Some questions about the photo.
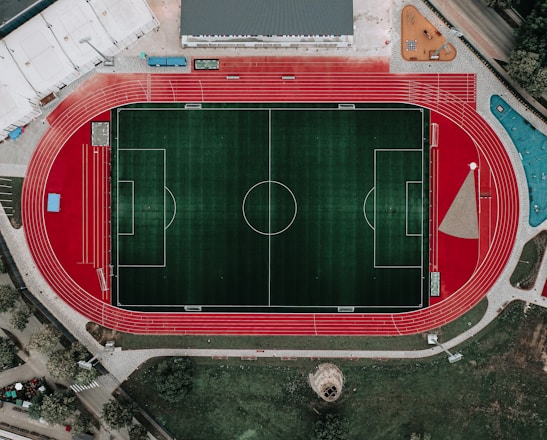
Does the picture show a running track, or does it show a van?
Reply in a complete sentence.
There is a running track in the scene.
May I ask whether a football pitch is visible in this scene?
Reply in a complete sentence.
Yes, a football pitch appears in the view.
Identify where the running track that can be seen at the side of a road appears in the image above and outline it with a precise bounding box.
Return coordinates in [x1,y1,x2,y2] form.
[21,56,521,335]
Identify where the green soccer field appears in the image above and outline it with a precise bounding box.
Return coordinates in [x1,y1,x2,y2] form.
[111,102,429,312]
